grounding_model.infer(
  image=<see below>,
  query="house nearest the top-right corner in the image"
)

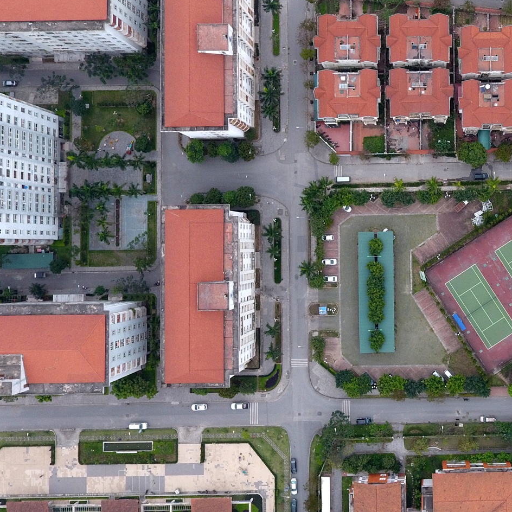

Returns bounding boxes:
[456,24,512,81]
